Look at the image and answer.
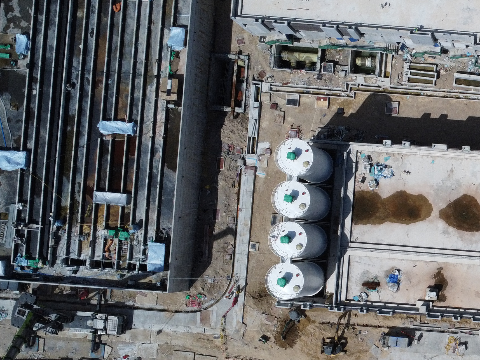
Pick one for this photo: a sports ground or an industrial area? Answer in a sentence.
This image shows an industrial area.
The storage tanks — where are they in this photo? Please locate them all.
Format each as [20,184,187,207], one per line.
[268,181,329,221]
[271,138,332,181]
[261,260,323,304]
[265,221,326,263]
